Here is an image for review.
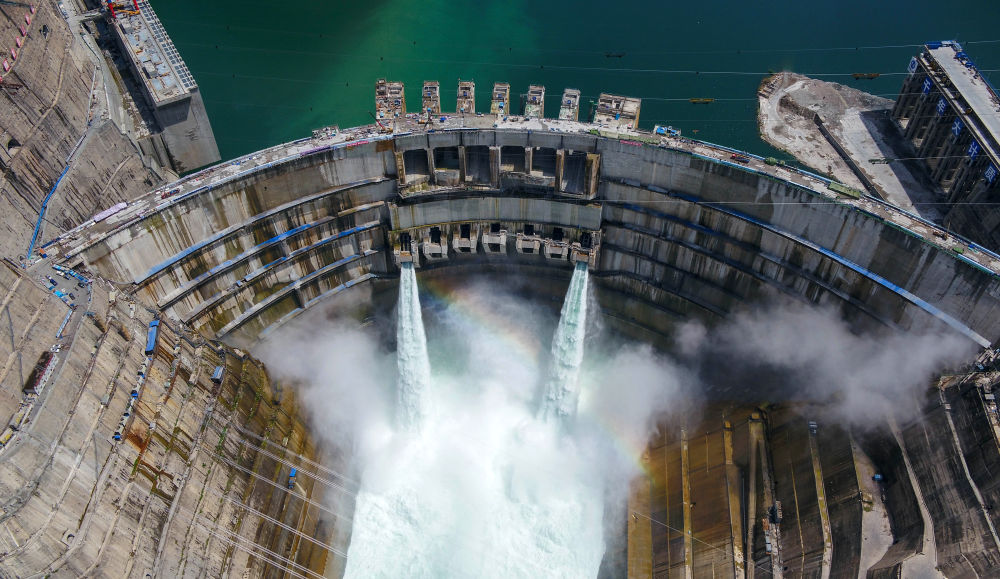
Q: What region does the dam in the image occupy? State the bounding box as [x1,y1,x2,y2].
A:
[27,80,1000,406]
